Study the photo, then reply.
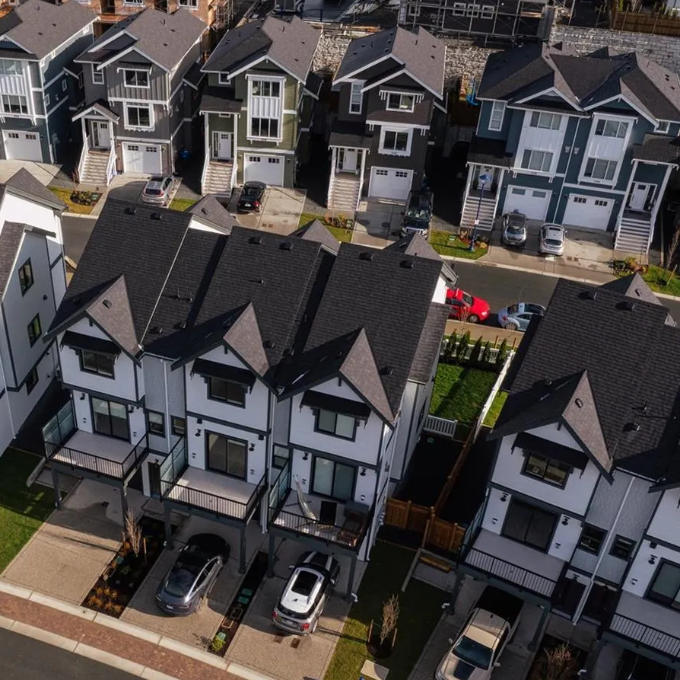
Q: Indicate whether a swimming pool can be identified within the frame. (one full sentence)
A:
No, I find no swimming pool anywhere in the image.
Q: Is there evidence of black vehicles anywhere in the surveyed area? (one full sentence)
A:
Yes, the image includes a black vehicle.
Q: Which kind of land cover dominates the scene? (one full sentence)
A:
The scene is dominated by buildings.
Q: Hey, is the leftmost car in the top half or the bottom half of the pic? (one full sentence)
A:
The leftmost car is in the top half of the image.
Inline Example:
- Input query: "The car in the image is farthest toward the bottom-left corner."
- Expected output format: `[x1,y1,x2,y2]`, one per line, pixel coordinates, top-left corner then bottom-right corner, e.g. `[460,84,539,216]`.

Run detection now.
[158,529,231,611]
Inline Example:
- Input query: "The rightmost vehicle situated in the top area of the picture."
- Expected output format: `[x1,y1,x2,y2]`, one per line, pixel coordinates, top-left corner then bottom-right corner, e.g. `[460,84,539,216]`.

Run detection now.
[540,219,573,250]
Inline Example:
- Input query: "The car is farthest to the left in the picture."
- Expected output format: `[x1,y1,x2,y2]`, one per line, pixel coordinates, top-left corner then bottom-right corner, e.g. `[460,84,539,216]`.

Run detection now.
[145,168,180,197]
